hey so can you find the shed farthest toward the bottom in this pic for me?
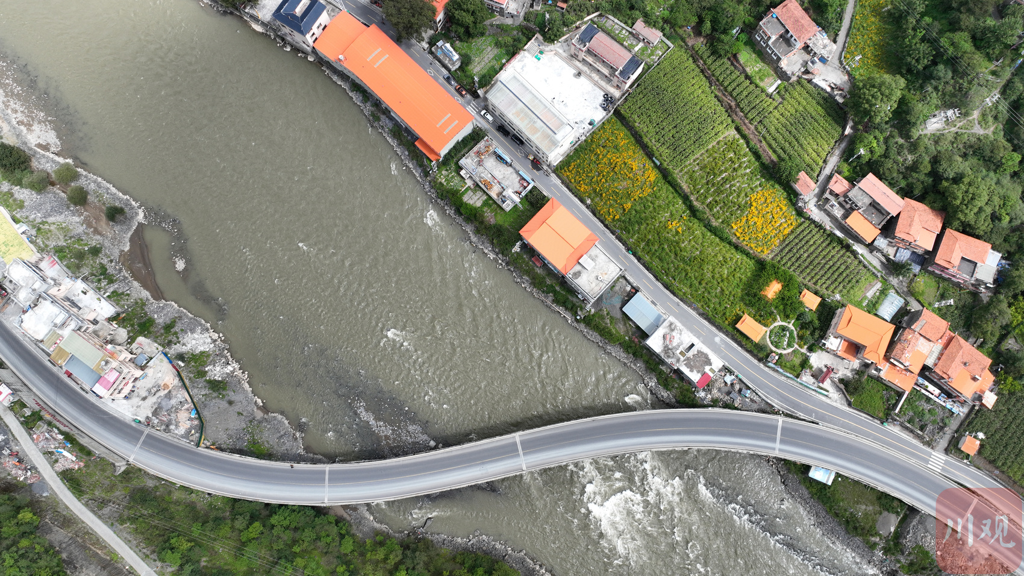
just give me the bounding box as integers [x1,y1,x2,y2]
[805,466,836,485]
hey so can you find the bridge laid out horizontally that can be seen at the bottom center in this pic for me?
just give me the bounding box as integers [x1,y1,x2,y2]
[129,409,976,529]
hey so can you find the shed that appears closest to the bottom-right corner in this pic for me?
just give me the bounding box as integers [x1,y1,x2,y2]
[953,436,980,455]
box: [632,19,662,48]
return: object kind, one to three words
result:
shed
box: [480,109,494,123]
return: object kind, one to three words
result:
car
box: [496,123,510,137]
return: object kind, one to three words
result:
car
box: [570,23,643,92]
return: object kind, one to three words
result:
house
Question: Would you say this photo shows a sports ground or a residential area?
residential area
